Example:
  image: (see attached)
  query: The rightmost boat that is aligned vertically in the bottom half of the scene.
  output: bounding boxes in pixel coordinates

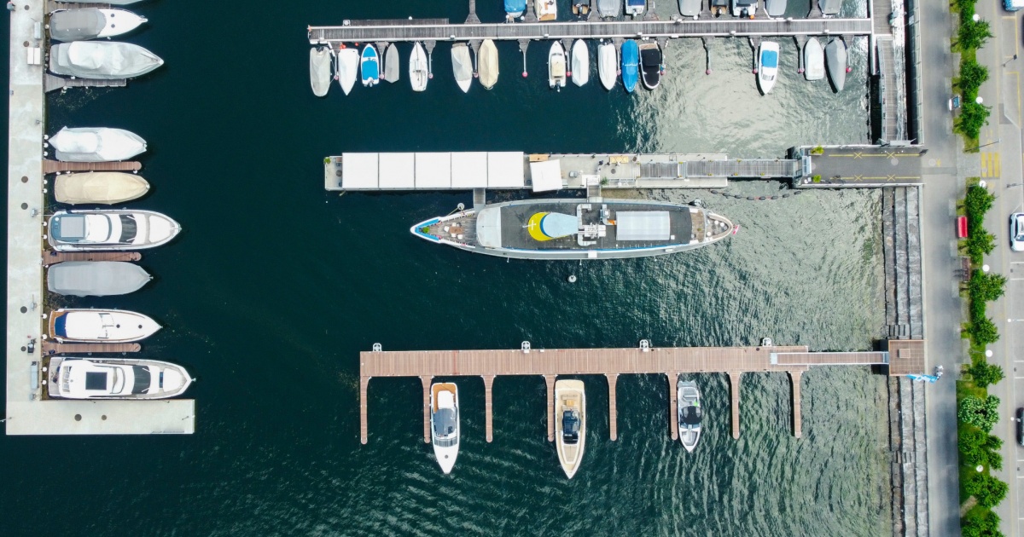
[676,374,700,452]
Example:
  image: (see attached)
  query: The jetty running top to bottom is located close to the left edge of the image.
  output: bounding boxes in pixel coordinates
[6,0,197,434]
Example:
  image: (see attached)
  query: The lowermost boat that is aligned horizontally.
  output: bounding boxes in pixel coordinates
[43,351,194,401]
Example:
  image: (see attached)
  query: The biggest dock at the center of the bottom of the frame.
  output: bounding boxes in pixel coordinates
[360,338,808,444]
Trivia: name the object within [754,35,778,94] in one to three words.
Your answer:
boat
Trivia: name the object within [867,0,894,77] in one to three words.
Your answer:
pier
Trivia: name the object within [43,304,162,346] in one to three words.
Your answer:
boat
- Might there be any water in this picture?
Yes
